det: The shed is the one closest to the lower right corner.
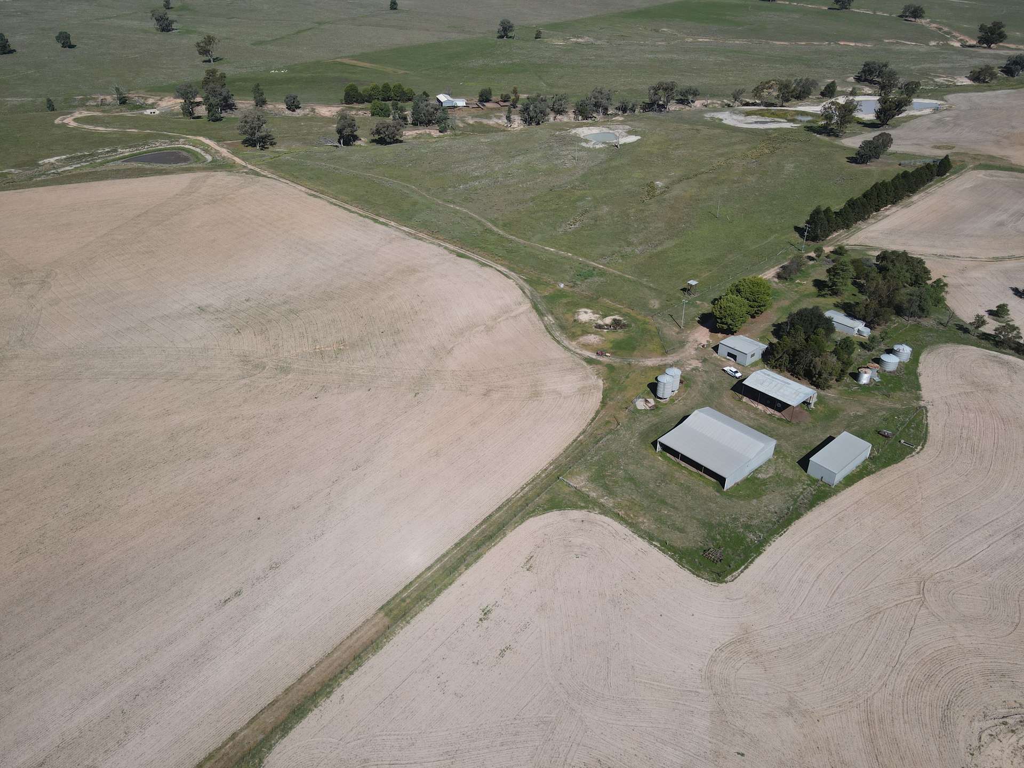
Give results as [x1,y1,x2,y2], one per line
[806,429,874,487]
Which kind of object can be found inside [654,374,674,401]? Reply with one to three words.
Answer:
silo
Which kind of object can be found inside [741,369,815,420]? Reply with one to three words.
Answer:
shed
